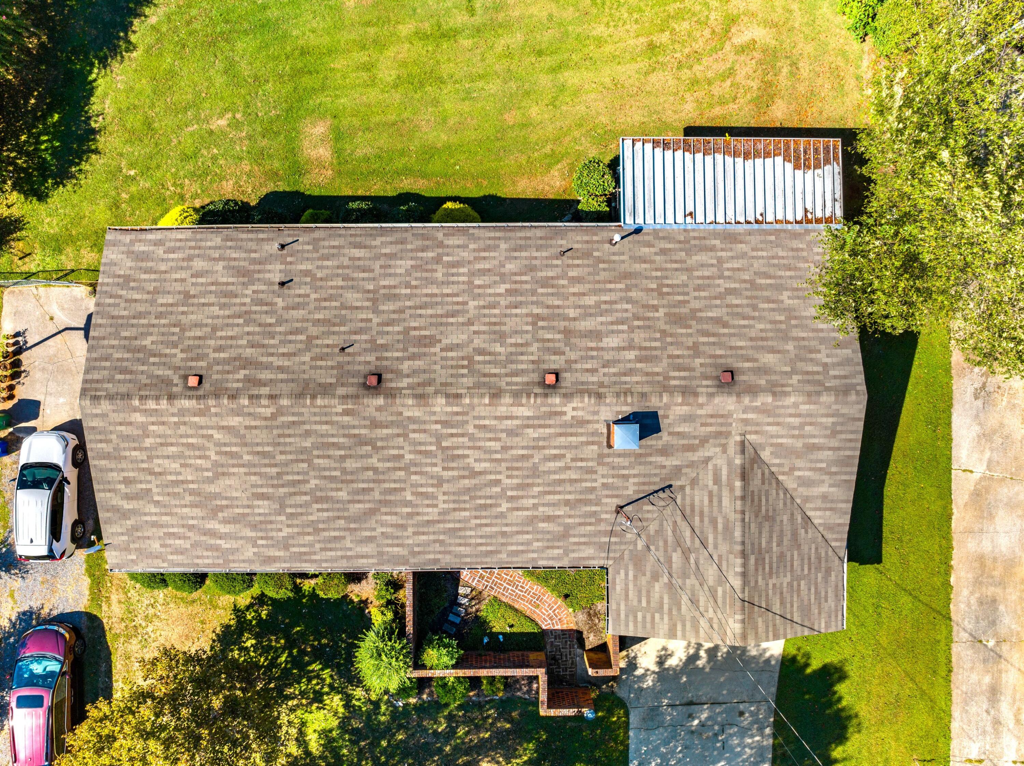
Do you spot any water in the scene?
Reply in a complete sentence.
No, water can't be seen anywhere here.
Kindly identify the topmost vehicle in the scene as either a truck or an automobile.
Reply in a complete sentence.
The topmost vehicle appears to be an automobile.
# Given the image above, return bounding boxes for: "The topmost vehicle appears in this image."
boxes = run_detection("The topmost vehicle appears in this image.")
[5,434,85,565]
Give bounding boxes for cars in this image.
[8,626,90,766]
[5,434,85,565]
